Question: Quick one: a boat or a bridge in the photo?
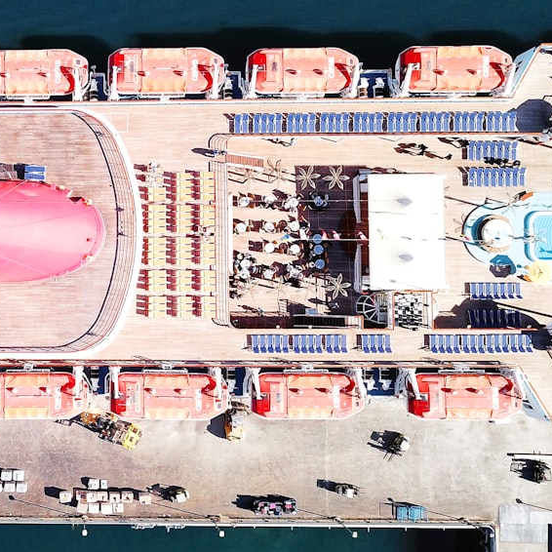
boat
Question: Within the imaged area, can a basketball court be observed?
No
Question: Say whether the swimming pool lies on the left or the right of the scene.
right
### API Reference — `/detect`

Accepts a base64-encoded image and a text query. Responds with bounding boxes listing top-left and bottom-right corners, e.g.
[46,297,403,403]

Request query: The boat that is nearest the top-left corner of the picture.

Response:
[0,47,89,99]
